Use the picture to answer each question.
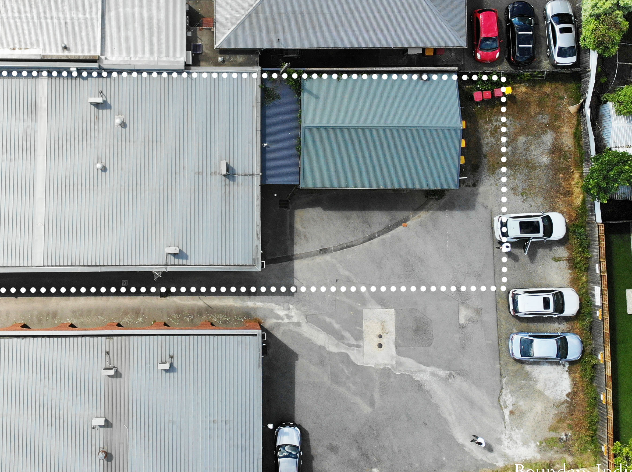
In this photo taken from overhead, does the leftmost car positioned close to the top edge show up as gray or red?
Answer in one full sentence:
The leftmost car positioned close to the top edge looks red in the image.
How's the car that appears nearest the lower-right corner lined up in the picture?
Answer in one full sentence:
What the image shows is the car that appears nearest the lower-right corner lying from side to side.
